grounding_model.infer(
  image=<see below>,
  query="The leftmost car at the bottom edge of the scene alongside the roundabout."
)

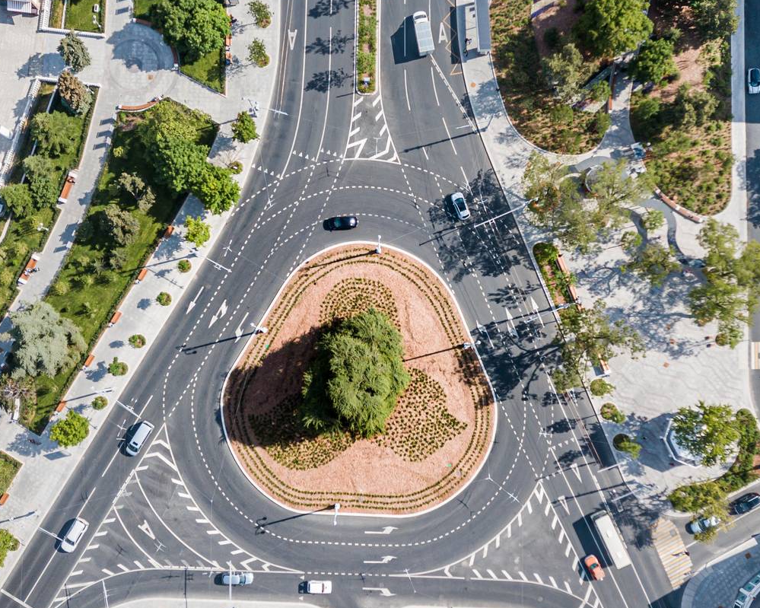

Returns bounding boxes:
[221,571,254,588]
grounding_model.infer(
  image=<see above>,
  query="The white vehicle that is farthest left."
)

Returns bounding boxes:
[61,519,87,553]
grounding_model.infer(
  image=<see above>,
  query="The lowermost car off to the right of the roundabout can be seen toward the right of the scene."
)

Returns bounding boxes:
[582,550,606,585]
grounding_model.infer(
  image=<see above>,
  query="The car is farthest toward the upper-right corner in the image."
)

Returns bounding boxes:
[748,67,760,95]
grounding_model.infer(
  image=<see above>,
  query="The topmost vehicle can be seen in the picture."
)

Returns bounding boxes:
[413,12,435,59]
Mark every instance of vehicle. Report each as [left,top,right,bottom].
[732,493,760,515]
[450,191,468,223]
[413,12,435,59]
[124,419,154,456]
[748,67,760,95]
[302,580,332,596]
[587,508,631,569]
[61,519,87,553]
[325,216,358,231]
[221,571,254,588]
[582,550,606,585]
